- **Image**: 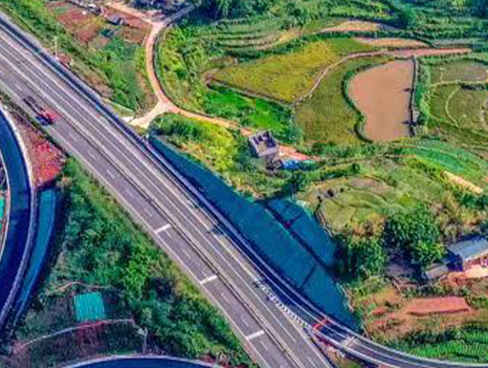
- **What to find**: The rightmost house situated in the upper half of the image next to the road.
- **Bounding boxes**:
[250,127,287,157]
